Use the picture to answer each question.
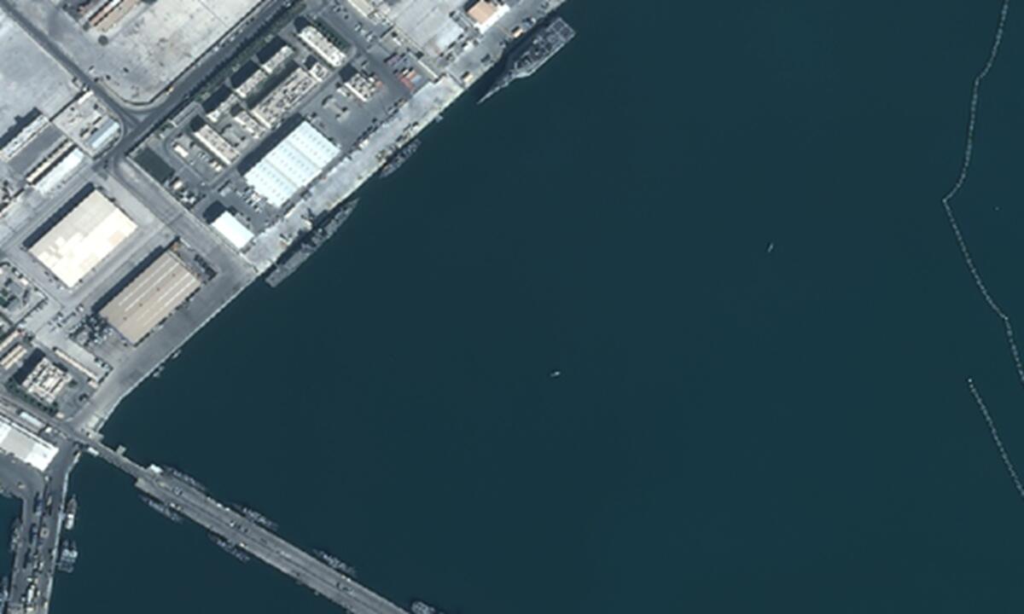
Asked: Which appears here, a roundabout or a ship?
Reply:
ship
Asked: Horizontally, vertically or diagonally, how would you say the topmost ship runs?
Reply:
diagonally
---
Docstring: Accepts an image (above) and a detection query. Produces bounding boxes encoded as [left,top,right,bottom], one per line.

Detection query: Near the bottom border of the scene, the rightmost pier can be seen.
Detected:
[136,469,408,614]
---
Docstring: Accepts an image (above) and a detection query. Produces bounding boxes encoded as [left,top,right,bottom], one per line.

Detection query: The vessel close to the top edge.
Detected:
[476,17,575,103]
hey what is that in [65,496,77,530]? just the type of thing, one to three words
boat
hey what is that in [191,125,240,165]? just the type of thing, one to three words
building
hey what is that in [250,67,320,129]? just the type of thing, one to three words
building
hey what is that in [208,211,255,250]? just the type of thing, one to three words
shed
